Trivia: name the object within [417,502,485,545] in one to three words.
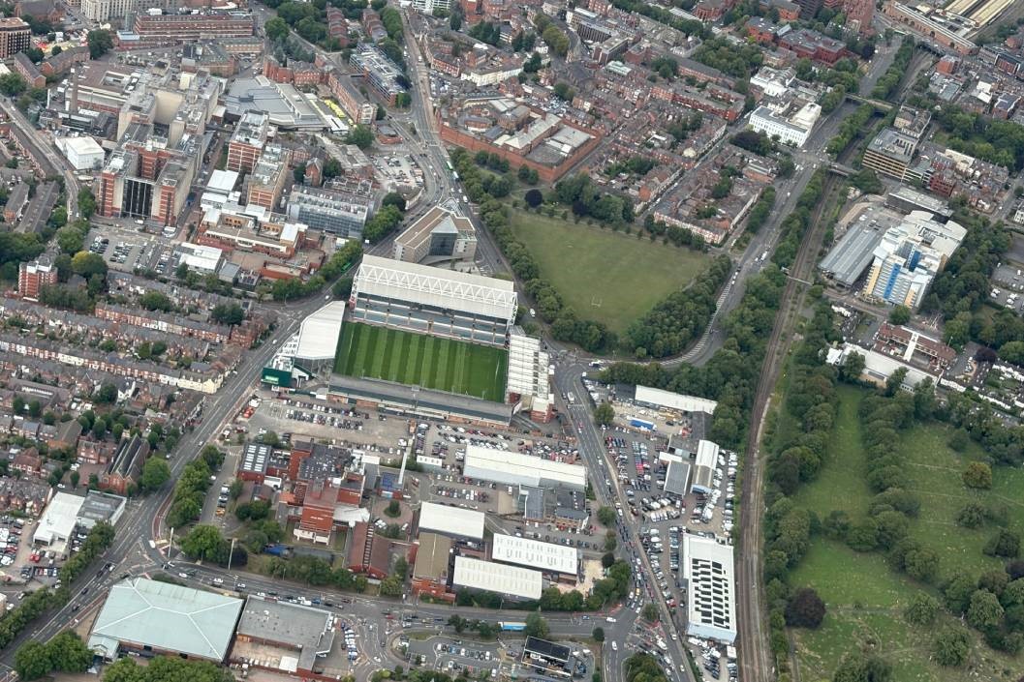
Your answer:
building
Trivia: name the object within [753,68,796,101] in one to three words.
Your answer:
house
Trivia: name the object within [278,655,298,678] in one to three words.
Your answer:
shed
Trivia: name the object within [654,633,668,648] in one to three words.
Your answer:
vehicle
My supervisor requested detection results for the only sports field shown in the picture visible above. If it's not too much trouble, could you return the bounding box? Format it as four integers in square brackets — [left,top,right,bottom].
[332,321,509,404]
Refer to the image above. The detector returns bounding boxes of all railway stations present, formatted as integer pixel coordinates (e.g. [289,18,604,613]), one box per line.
[880,0,977,54]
